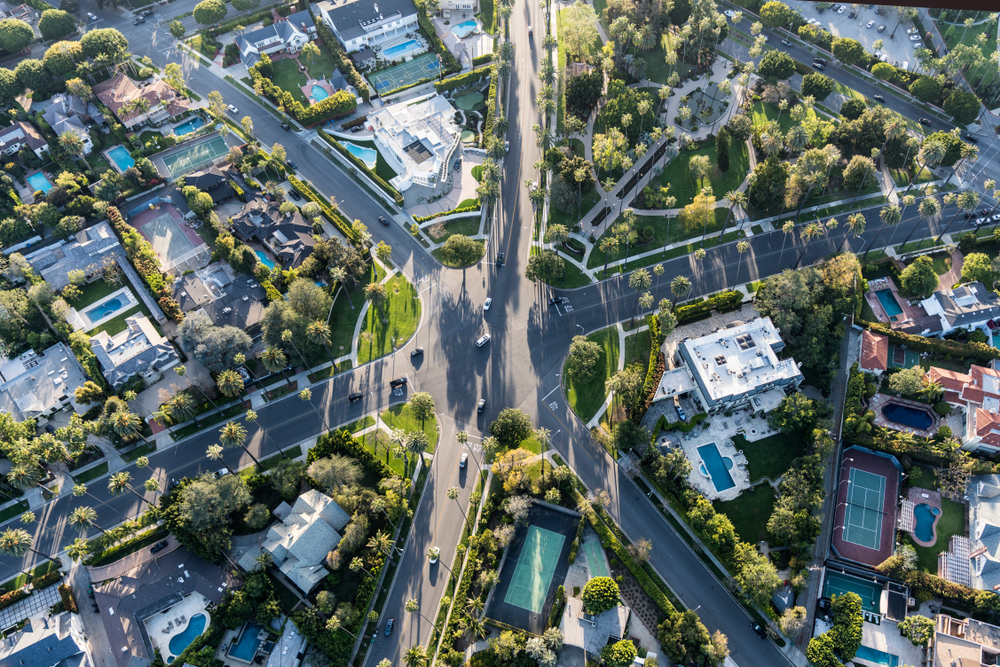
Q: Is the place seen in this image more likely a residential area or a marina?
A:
residential area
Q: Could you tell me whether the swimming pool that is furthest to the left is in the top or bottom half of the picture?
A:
top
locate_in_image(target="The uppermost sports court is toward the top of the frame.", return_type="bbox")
[369,52,446,91]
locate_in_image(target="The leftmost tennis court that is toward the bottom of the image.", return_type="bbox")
[484,498,580,637]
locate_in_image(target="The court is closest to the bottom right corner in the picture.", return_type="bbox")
[821,567,883,613]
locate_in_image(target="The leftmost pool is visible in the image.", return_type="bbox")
[25,170,51,195]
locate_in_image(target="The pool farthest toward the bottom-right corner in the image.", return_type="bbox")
[851,644,901,667]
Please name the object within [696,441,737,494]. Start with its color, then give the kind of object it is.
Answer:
blue swimming pool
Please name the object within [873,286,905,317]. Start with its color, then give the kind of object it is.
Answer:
blue swimming pool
